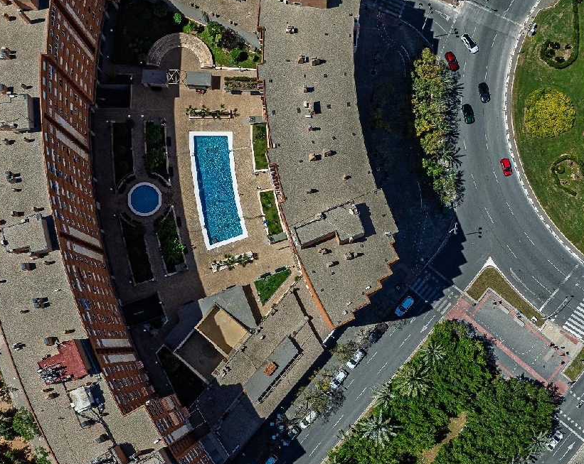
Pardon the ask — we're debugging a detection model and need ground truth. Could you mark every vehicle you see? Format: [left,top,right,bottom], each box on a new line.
[330,368,349,391]
[462,102,475,123]
[443,48,458,72]
[262,454,278,464]
[478,80,490,103]
[346,347,365,370]
[501,156,513,177]
[547,430,566,453]
[299,410,319,432]
[460,30,478,54]
[365,325,382,344]
[396,294,415,316]
[279,424,300,448]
